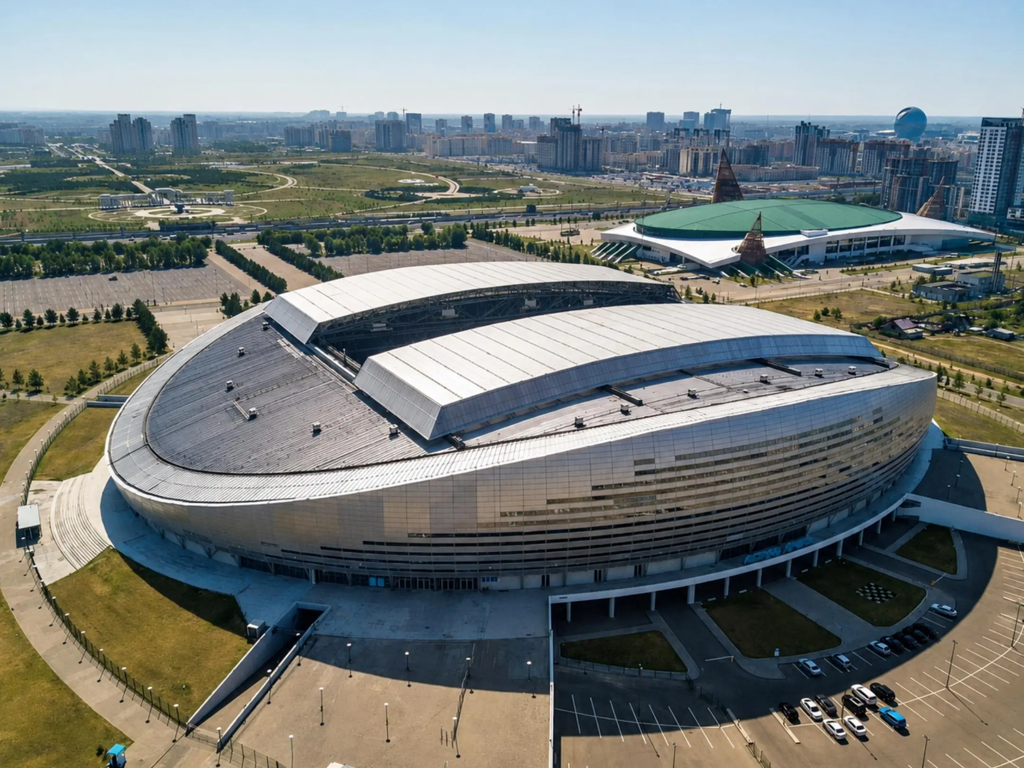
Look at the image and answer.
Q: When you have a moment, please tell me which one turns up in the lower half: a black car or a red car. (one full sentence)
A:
There is a black car in the lower half.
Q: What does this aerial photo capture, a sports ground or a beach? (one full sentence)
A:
This looks like a sports ground.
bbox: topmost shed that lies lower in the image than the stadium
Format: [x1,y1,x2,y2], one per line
[245,616,265,638]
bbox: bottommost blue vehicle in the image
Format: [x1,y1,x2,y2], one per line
[880,707,908,728]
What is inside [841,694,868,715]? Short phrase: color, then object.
black car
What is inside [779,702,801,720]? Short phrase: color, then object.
black car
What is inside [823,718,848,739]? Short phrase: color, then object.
white car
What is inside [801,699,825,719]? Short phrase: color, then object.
white car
